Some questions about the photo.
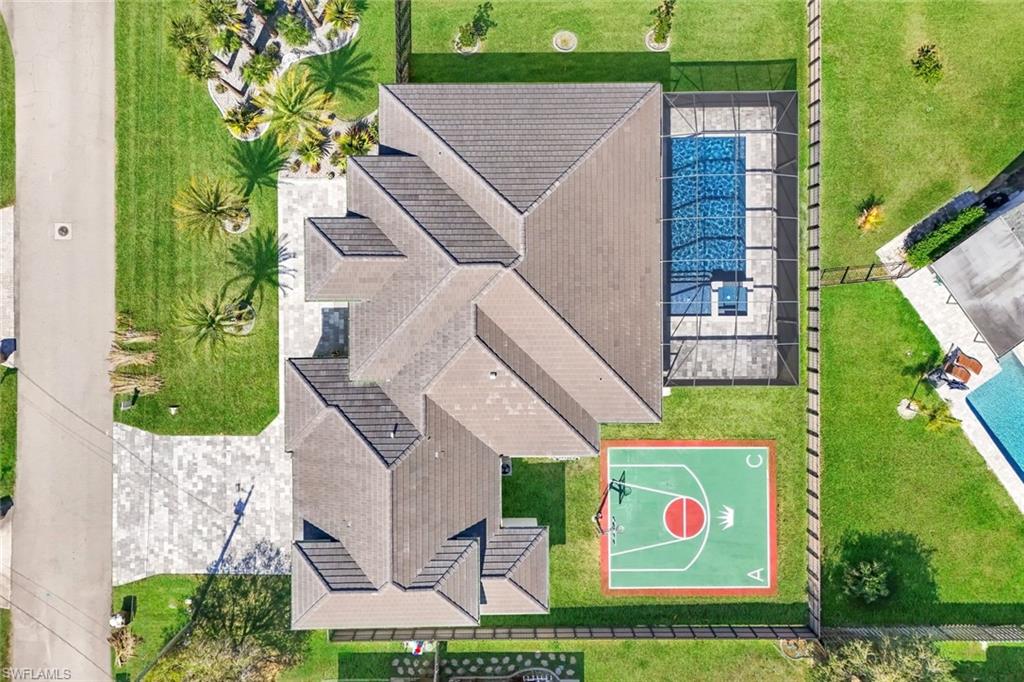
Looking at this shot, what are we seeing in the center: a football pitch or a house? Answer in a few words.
house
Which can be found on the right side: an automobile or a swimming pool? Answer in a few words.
swimming pool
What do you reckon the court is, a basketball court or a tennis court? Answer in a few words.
basketball court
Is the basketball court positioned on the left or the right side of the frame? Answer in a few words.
right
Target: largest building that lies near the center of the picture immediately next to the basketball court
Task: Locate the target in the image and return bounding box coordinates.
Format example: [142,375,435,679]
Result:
[284,83,663,630]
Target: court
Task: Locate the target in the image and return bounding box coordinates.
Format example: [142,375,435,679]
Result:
[601,440,777,596]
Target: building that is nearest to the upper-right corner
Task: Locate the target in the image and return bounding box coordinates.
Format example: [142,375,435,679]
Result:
[929,173,1024,358]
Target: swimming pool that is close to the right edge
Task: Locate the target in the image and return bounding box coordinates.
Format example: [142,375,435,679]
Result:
[962,337,1024,484]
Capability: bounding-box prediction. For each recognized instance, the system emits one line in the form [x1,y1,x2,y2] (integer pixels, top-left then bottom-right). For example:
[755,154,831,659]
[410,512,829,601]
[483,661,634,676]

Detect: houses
[929,173,1024,358]
[284,83,663,630]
